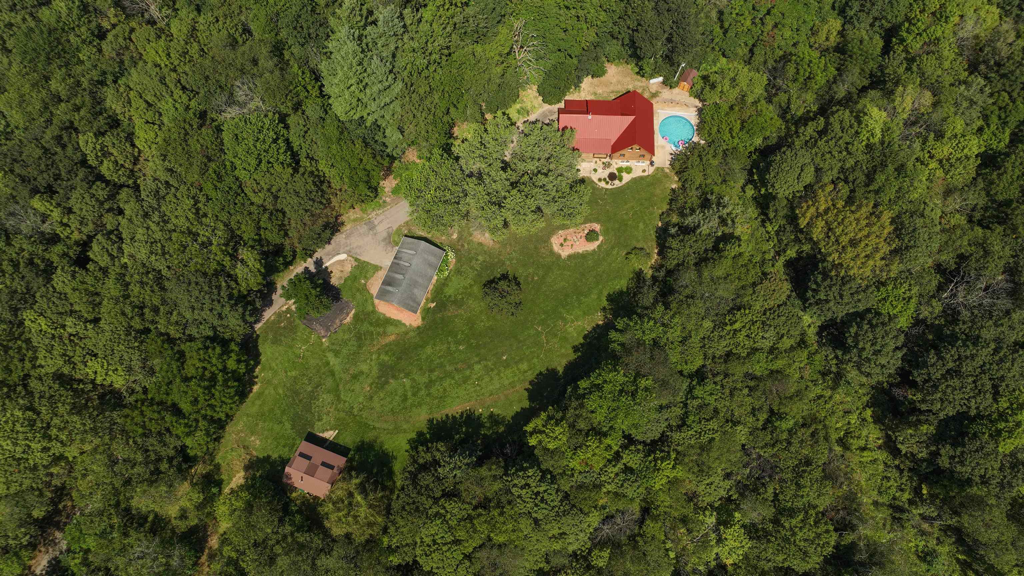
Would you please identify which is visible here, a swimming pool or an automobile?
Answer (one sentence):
Visible in the photo is a swimming pool.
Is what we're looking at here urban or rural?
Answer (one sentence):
From above, the setting appears rural.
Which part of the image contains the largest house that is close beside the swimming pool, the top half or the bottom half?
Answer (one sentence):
The largest house that is close beside the swimming pool is in the top half of the image.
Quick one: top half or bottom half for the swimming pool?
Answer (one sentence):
You can find the swimming pool in the top half.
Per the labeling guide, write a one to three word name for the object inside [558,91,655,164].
house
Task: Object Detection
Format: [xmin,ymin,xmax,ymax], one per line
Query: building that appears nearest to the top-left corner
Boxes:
[375,236,444,316]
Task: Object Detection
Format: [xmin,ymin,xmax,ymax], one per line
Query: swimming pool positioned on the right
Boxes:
[658,114,696,153]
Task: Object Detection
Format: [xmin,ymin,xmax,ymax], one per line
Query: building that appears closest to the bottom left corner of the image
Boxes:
[286,441,349,504]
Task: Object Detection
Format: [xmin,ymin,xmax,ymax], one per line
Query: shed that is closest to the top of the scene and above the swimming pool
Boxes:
[678,63,701,92]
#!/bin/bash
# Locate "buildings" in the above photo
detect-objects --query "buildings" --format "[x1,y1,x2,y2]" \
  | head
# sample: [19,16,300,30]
[286,441,349,504]
[678,63,701,92]
[558,91,655,164]
[375,236,444,316]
